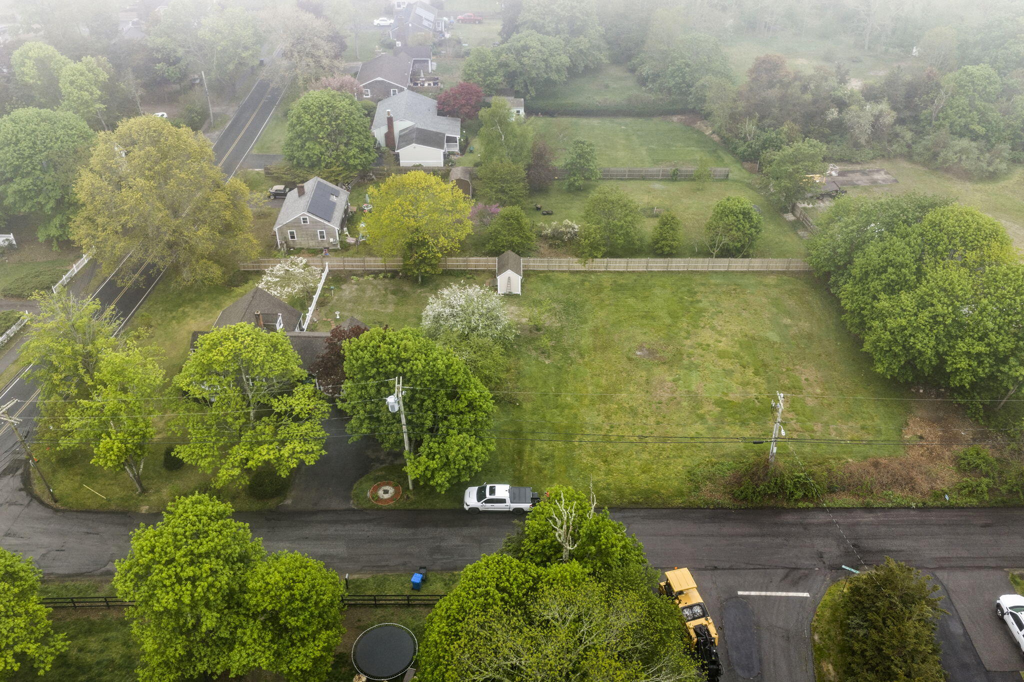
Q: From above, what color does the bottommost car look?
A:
white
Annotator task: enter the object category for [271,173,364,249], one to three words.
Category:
house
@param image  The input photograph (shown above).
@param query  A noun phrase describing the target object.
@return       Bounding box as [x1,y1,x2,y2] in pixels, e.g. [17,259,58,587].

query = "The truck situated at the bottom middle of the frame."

[463,482,540,515]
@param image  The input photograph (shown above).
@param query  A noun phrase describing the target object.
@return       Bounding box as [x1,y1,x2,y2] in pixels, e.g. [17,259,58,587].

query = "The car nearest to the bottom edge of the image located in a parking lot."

[992,597,1024,642]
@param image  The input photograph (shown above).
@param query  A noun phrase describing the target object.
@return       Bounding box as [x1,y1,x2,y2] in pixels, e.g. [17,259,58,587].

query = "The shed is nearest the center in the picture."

[496,249,523,294]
